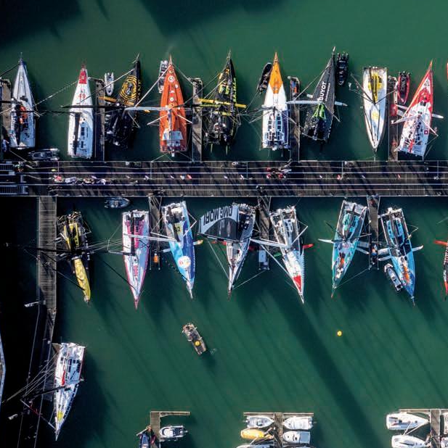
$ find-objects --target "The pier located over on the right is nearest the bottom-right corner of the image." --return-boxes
[399,409,448,448]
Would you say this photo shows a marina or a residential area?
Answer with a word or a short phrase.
marina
